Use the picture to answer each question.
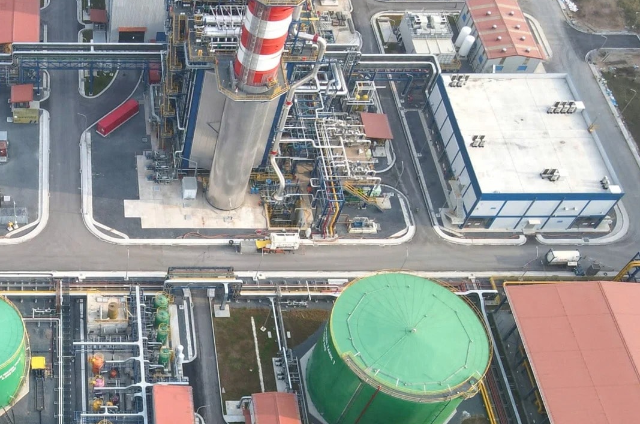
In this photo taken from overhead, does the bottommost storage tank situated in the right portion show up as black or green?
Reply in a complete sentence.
From above, the bottommost storage tank situated in the right portion appears green.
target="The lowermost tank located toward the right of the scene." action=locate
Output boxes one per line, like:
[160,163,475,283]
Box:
[292,268,490,424]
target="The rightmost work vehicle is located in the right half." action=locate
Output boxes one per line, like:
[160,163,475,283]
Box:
[570,263,588,276]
